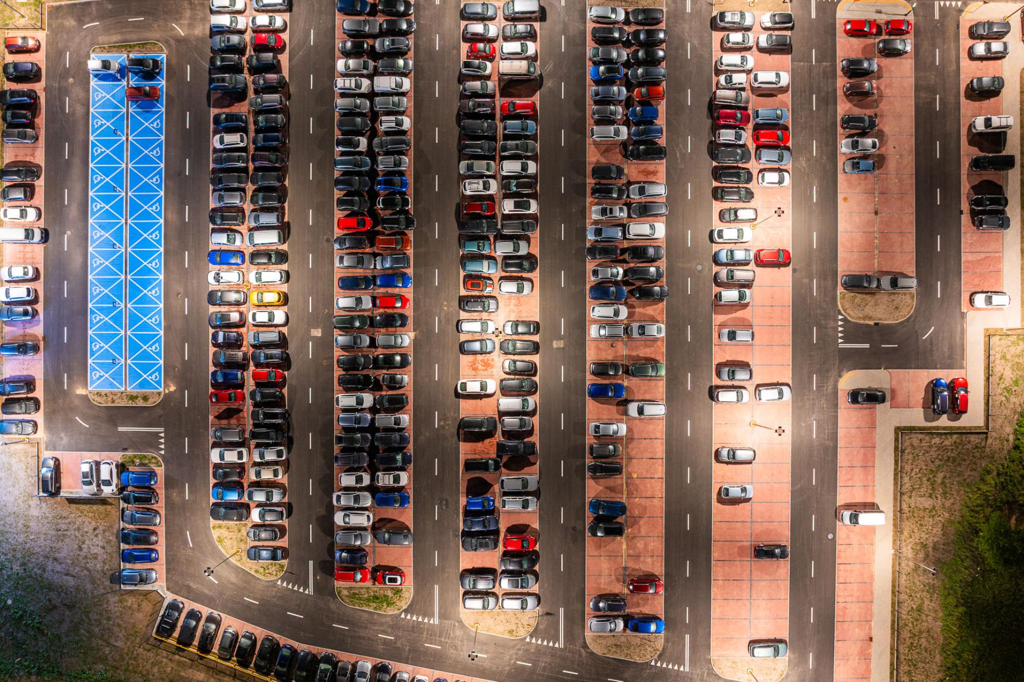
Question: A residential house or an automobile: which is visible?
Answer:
automobile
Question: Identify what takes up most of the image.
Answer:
paved ground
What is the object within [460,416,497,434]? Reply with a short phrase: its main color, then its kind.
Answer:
black car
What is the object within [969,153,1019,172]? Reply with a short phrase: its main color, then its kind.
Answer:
black vehicle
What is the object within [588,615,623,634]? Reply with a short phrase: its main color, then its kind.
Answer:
gray car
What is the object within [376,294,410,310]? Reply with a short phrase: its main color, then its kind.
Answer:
red car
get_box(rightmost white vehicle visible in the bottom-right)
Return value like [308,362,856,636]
[839,508,888,527]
